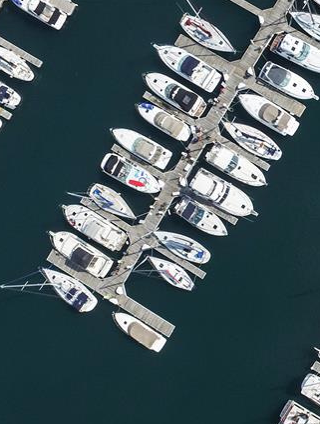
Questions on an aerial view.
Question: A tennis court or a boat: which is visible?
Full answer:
It is a boat that can be seen here.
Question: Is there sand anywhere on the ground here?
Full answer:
No, there is no sand in the image.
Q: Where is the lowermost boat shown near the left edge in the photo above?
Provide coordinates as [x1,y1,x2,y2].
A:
[0,267,98,317]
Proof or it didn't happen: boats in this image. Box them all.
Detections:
[101,154,168,198]
[61,204,133,260]
[0,82,22,107]
[107,296,168,352]
[234,84,300,137]
[180,0,250,65]
[154,45,231,102]
[79,183,152,231]
[268,26,320,73]
[215,108,283,161]
[135,242,197,293]
[137,223,212,265]
[133,100,194,150]
[251,55,318,101]
[141,72,214,124]
[0,52,39,85]
[283,404,320,424]
[48,231,118,284]
[280,0,320,41]
[198,143,270,187]
[109,128,185,176]
[9,0,66,30]
[300,376,320,406]
[0,267,98,317]
[185,167,258,216]
[170,195,231,238]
